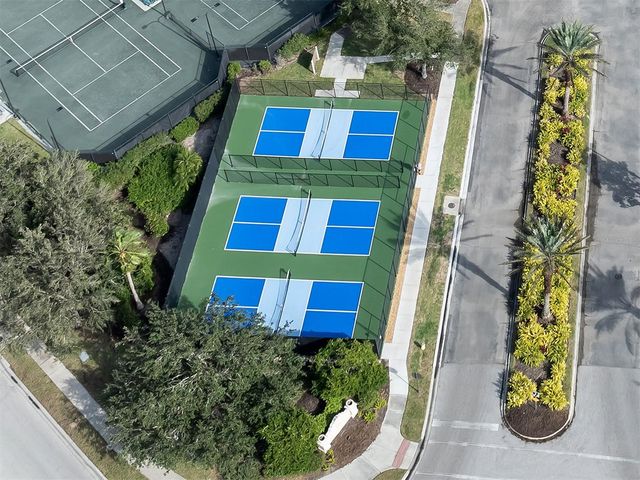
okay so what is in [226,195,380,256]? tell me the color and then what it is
blue sports court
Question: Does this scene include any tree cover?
Yes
